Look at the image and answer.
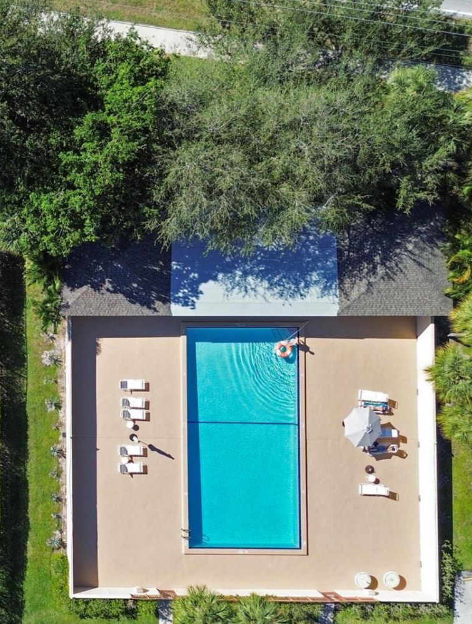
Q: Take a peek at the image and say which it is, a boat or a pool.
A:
pool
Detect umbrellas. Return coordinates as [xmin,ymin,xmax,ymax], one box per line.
[342,408,379,448]
[129,432,142,442]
